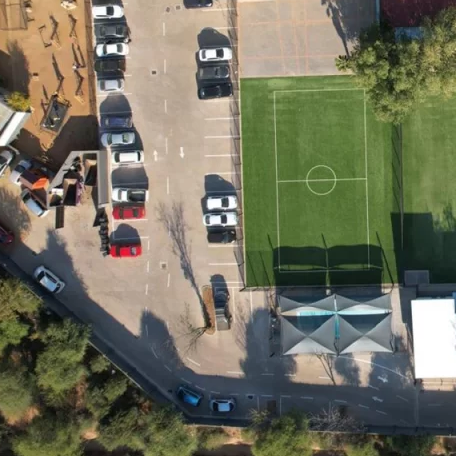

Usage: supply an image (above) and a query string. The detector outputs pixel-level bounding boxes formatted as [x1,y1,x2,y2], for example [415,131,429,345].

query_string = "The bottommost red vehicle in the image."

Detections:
[112,243,142,258]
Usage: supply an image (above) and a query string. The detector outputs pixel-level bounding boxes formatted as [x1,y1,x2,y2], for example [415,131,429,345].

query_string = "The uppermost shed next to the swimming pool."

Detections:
[404,267,429,286]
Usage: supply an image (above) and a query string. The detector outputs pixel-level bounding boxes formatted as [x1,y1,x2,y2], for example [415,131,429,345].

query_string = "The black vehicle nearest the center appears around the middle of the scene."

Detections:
[204,228,241,243]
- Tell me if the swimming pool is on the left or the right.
right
